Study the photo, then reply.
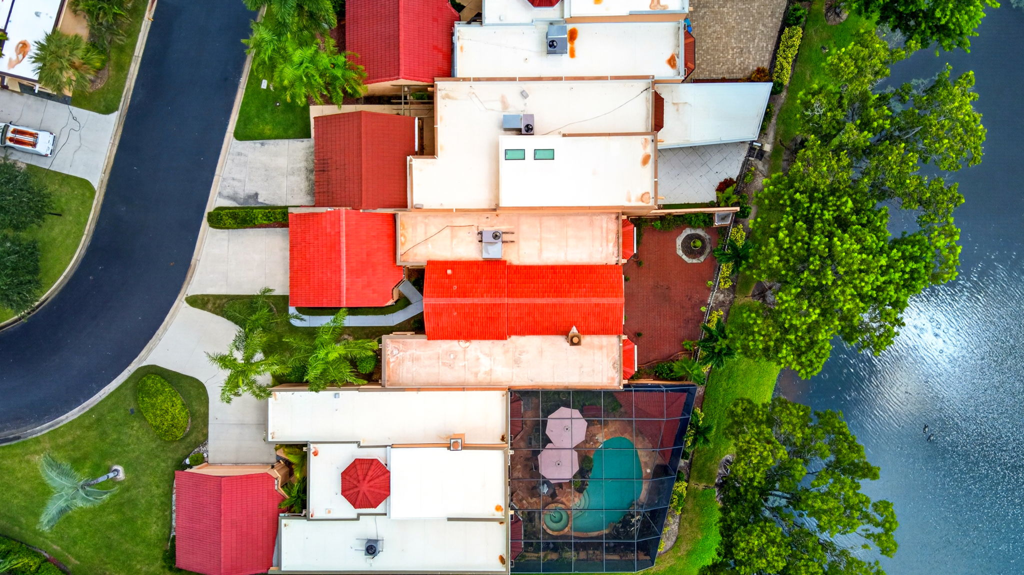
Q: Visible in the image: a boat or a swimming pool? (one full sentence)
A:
Visible in the photo is a swimming pool.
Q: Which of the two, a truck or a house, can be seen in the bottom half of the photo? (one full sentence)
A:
Visible in the bottom half of the photo is a house.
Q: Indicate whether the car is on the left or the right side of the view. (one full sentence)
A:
The car sits on the left side.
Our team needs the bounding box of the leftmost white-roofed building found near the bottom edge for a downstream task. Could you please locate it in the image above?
[174,383,525,575]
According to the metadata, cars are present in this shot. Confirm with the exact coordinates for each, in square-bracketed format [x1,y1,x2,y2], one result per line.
[0,120,57,157]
